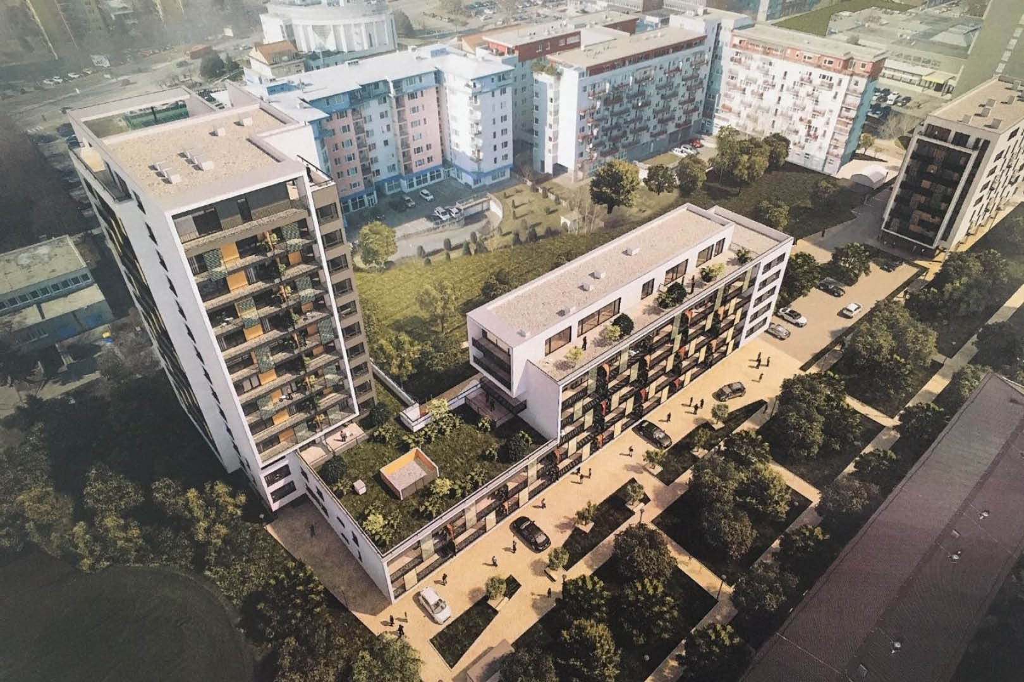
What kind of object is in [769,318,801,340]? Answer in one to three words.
car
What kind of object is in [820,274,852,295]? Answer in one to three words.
car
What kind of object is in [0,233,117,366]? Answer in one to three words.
building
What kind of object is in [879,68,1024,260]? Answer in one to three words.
house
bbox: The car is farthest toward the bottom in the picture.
[415,583,453,625]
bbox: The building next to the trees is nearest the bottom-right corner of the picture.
[719,376,1024,682]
